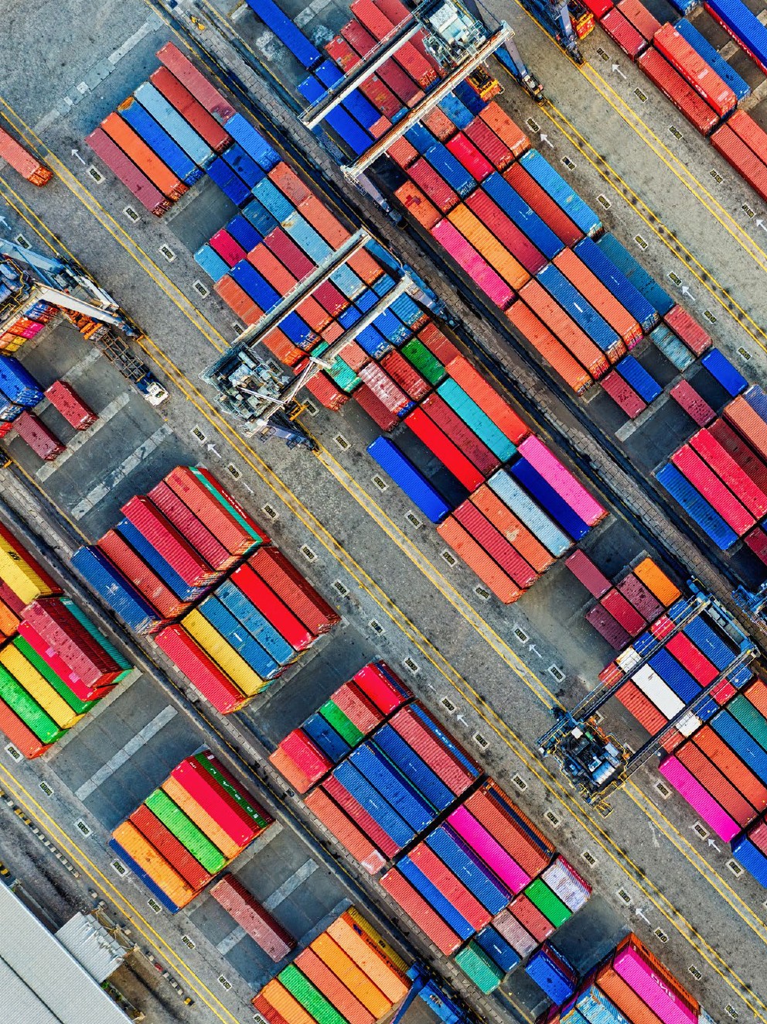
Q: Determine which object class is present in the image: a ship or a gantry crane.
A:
gantry crane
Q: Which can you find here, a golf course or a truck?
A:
truck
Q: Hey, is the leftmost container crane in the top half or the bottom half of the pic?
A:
top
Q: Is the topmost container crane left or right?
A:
right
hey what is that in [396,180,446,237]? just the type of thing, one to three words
shipping container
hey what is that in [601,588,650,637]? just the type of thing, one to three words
shipping container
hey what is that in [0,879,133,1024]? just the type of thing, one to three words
warehouse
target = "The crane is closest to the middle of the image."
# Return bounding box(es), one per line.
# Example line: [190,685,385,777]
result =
[195,220,459,460]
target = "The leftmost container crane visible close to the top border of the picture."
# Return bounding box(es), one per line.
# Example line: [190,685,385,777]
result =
[292,0,547,232]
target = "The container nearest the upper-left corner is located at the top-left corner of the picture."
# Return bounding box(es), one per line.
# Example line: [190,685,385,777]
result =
[0,114,52,184]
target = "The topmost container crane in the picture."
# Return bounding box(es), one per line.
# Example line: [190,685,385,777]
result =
[522,0,588,65]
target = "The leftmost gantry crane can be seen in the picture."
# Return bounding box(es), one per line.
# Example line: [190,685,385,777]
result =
[0,232,143,349]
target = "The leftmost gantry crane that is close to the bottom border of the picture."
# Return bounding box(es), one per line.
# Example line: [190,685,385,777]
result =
[381,967,480,1024]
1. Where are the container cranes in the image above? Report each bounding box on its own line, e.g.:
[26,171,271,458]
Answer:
[522,0,588,65]
[0,232,143,349]
[195,220,459,460]
[381,967,480,1024]
[525,579,766,834]
[292,0,547,232]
